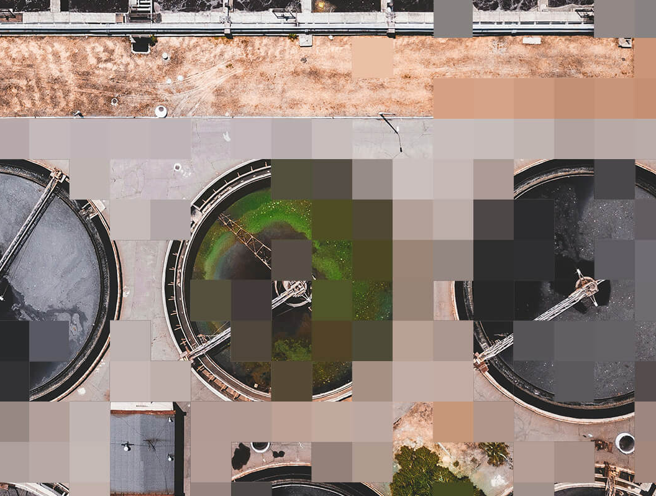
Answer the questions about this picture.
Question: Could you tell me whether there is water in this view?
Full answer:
Yes, the picture does contain water.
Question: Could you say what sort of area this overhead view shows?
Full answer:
This image shows an industrial area.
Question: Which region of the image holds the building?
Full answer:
You can find the building in the bottom left area of the picture.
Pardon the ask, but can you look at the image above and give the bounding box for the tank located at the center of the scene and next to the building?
[162,153,435,424]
